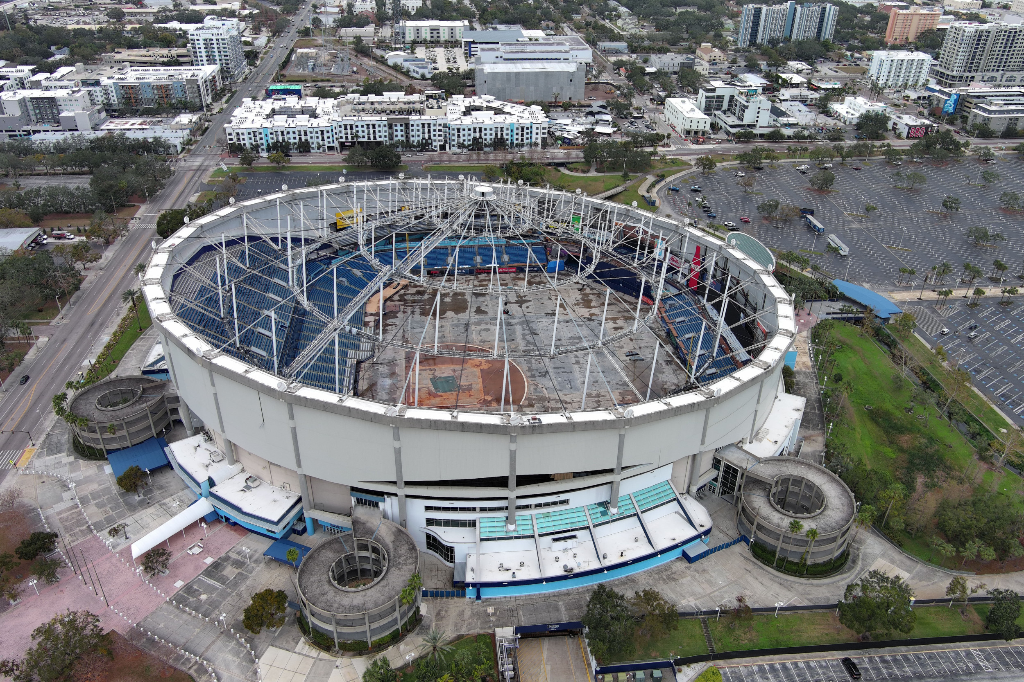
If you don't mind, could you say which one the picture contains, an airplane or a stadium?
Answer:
stadium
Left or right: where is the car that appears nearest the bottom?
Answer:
right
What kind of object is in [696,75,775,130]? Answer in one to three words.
building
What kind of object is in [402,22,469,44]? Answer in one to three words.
building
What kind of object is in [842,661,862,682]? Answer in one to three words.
car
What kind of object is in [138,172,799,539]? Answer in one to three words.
stadium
